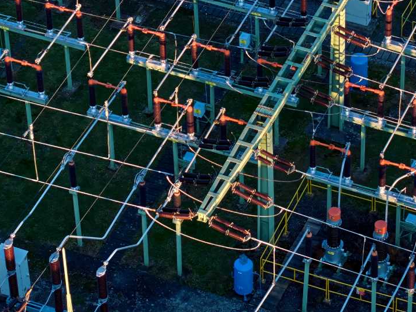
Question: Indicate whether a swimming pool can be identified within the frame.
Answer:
No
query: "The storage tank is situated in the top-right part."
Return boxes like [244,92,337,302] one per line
[354,51,382,89]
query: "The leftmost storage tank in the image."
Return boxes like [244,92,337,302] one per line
[234,255,265,296]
